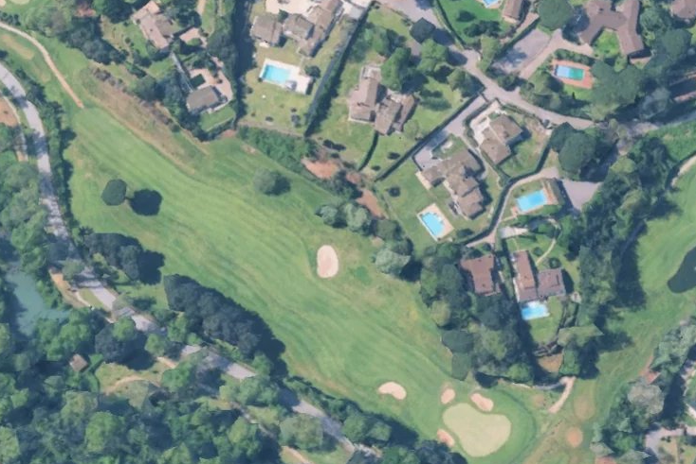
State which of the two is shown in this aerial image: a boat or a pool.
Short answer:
pool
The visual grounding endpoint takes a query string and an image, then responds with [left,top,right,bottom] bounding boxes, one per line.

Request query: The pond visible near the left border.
[1,265,74,340]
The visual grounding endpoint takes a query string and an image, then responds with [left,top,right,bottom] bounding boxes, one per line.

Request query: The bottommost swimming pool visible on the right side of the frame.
[520,301,551,321]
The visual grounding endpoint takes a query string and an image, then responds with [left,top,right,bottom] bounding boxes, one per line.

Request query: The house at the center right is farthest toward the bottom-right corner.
[514,250,566,303]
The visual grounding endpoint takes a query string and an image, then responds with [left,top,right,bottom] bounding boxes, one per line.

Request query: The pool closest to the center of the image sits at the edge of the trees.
[417,204,454,240]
